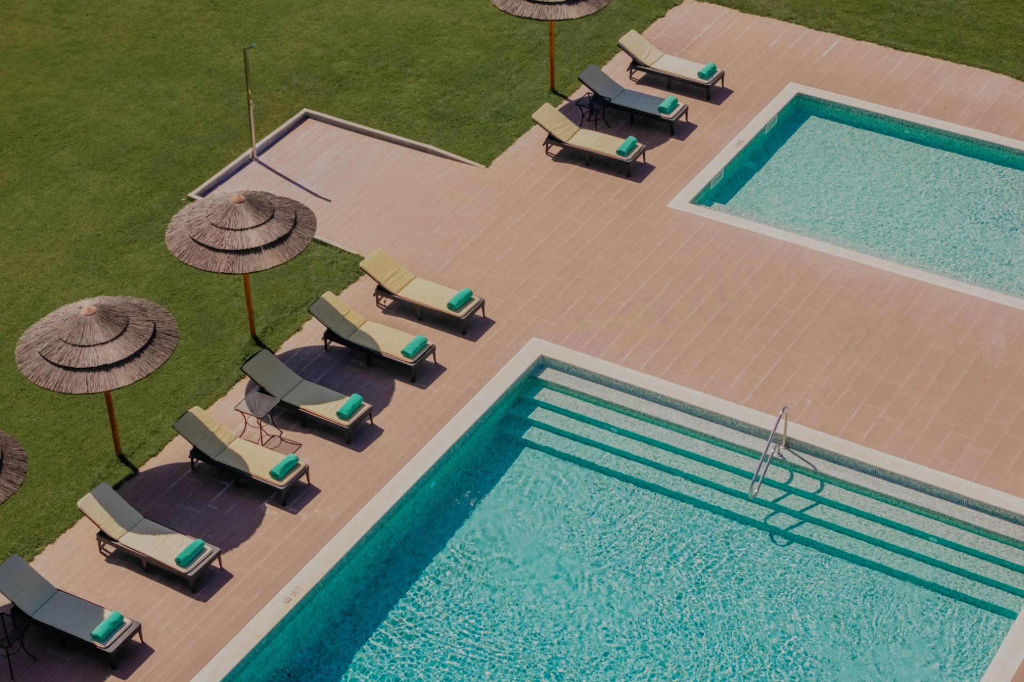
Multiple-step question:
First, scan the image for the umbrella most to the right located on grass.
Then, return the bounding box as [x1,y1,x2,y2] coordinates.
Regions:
[489,0,609,89]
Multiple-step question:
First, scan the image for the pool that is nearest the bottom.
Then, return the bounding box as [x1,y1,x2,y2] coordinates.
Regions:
[190,338,1024,682]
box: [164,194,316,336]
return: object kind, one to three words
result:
umbrella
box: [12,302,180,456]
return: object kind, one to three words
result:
umbrella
